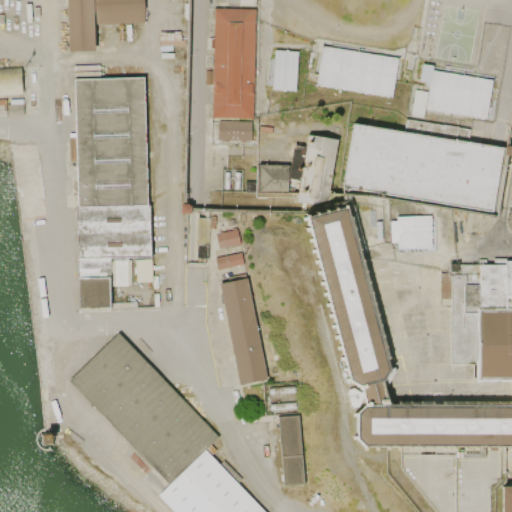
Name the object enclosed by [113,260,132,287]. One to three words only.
shed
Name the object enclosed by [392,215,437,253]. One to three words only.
building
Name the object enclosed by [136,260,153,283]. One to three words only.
shed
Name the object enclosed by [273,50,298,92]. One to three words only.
building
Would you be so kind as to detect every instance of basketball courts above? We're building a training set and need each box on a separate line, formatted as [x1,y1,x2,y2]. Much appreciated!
[437,6,480,64]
